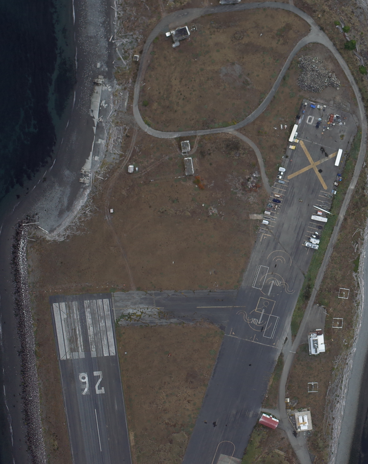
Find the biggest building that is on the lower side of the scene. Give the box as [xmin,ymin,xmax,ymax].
[308,329,326,354]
